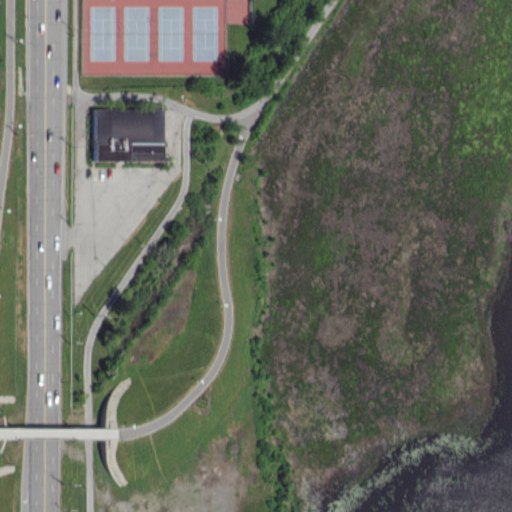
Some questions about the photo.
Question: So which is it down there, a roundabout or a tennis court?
tennis court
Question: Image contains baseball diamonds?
No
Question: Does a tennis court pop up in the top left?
Yes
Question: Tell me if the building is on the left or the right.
left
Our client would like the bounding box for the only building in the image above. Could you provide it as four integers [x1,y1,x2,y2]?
[93,110,166,163]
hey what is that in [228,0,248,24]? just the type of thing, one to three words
sports court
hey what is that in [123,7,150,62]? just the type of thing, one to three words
tennis court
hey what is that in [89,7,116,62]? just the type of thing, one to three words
tennis court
